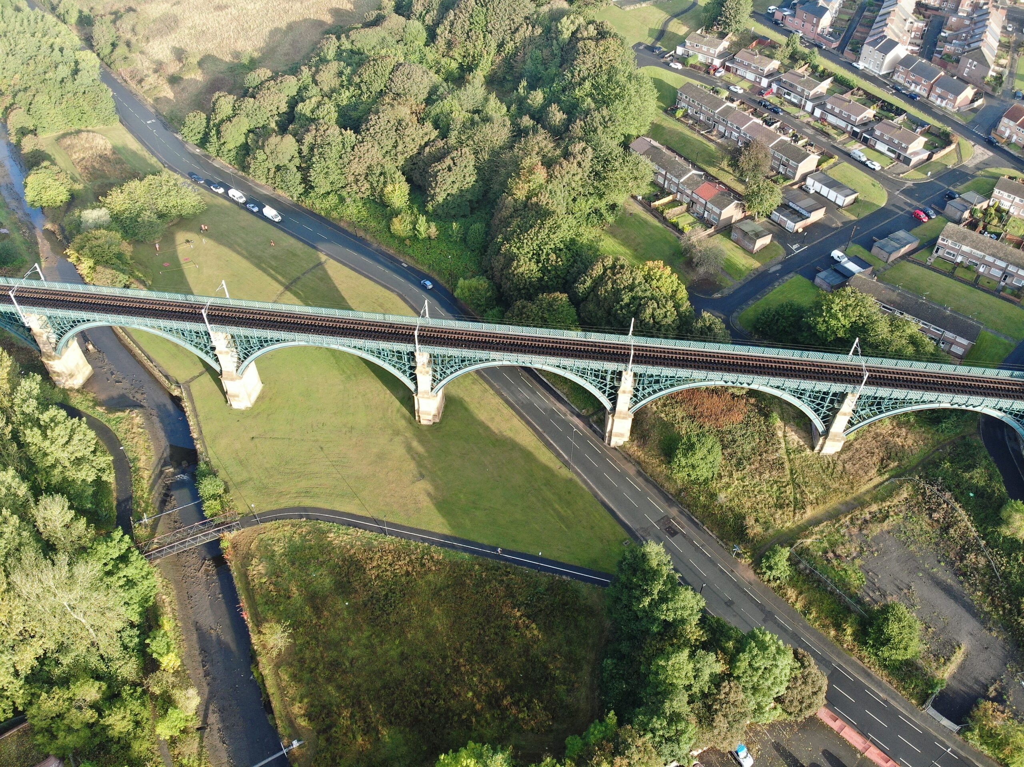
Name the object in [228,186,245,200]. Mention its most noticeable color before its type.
white vehicle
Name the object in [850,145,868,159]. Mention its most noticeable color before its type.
white vehicle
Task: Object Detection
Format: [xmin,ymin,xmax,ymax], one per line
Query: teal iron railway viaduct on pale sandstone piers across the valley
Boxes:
[0,277,1024,454]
